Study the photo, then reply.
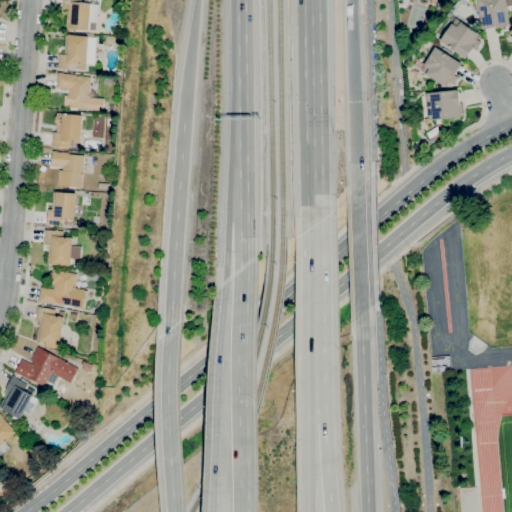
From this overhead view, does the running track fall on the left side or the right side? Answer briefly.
right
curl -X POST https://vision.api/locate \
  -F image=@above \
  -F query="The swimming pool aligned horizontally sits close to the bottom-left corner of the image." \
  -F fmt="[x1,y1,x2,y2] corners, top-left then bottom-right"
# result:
[44,434,72,448]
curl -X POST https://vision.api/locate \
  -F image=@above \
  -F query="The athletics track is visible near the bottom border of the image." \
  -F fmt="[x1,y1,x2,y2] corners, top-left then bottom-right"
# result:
[470,368,512,512]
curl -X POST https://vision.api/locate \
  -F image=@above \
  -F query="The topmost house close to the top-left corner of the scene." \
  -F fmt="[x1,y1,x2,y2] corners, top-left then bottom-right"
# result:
[62,0,97,30]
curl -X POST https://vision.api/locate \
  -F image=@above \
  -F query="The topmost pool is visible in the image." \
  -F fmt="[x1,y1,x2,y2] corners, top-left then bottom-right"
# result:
[104,10,120,32]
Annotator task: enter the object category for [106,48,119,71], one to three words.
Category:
swimming pool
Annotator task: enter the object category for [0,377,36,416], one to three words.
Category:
house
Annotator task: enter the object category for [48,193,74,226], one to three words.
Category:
house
